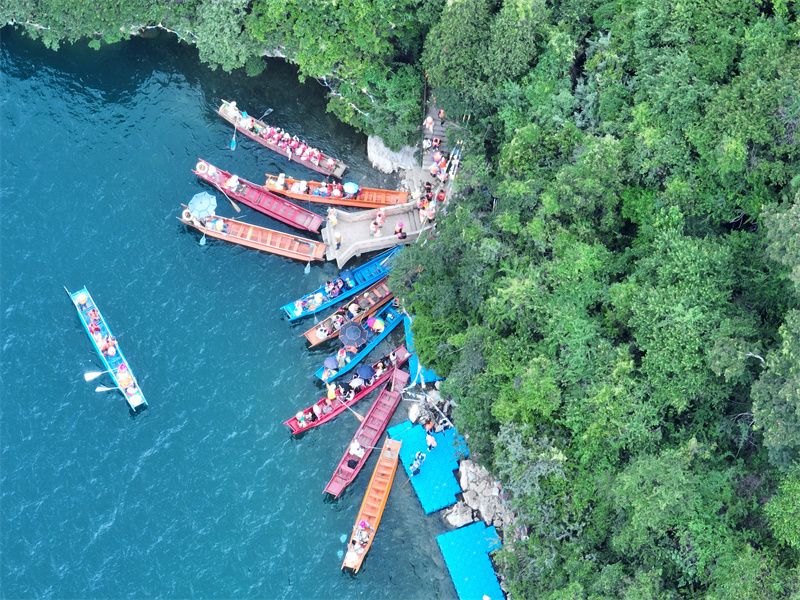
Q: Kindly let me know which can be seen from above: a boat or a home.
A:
boat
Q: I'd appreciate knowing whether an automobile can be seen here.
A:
No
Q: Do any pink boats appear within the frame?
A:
Yes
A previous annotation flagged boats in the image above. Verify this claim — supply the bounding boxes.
[298,280,400,348]
[211,97,347,177]
[188,156,325,231]
[66,282,148,410]
[280,342,413,434]
[339,434,405,579]
[172,204,327,259]
[311,305,406,386]
[319,366,411,504]
[259,173,409,205]
[277,248,405,323]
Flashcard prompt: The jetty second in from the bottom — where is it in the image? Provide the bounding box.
[390,417,470,515]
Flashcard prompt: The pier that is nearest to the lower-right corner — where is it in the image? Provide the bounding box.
[436,519,506,600]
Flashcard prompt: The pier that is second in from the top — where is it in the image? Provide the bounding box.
[399,313,438,390]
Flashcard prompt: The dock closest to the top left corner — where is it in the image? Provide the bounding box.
[321,198,440,272]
